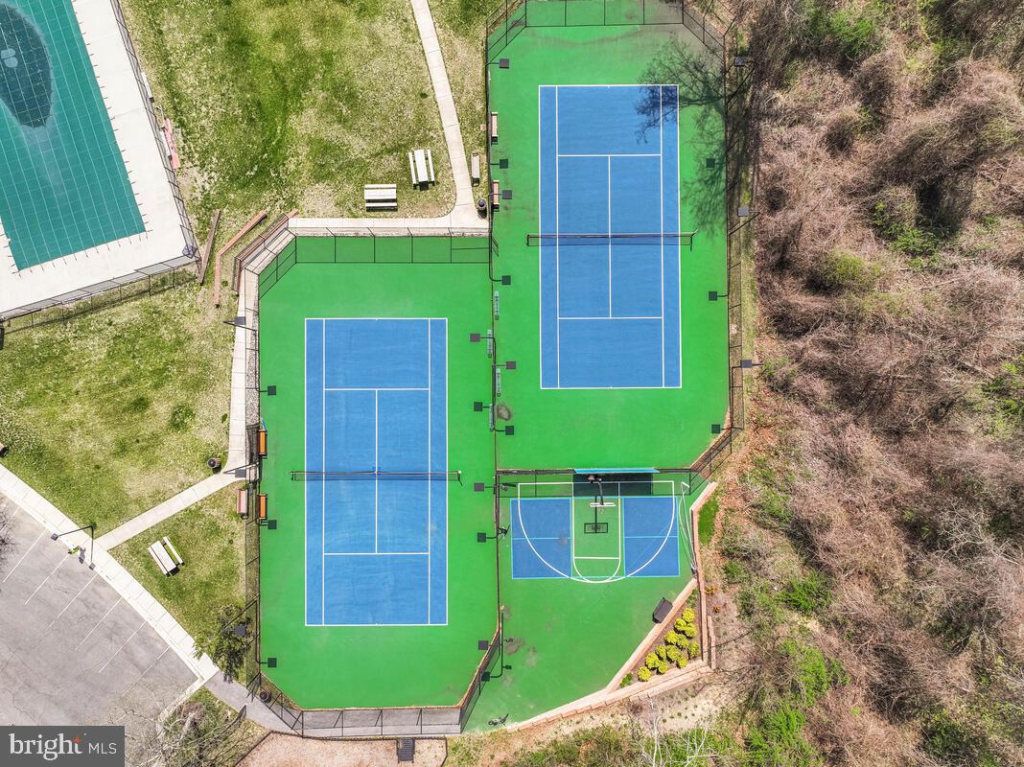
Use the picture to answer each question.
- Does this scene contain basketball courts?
Yes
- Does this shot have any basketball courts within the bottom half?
Yes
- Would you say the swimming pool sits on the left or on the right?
left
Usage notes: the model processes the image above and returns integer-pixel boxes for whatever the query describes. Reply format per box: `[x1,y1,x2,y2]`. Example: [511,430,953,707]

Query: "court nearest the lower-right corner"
[460,469,712,734]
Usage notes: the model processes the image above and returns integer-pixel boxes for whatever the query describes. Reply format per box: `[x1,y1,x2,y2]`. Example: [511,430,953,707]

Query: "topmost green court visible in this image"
[489,0,733,471]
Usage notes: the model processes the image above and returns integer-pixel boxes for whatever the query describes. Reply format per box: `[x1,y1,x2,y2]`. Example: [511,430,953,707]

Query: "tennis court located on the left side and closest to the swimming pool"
[259,236,499,712]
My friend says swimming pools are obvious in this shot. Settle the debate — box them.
[0,0,149,273]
